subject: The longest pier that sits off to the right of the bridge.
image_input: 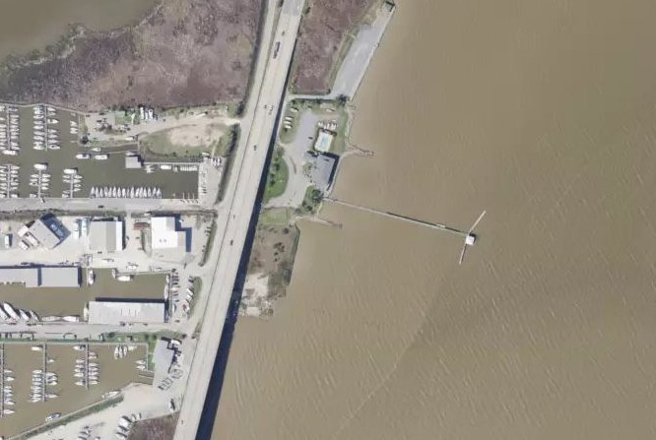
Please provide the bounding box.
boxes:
[323,197,485,264]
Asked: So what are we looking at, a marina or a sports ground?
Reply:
marina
